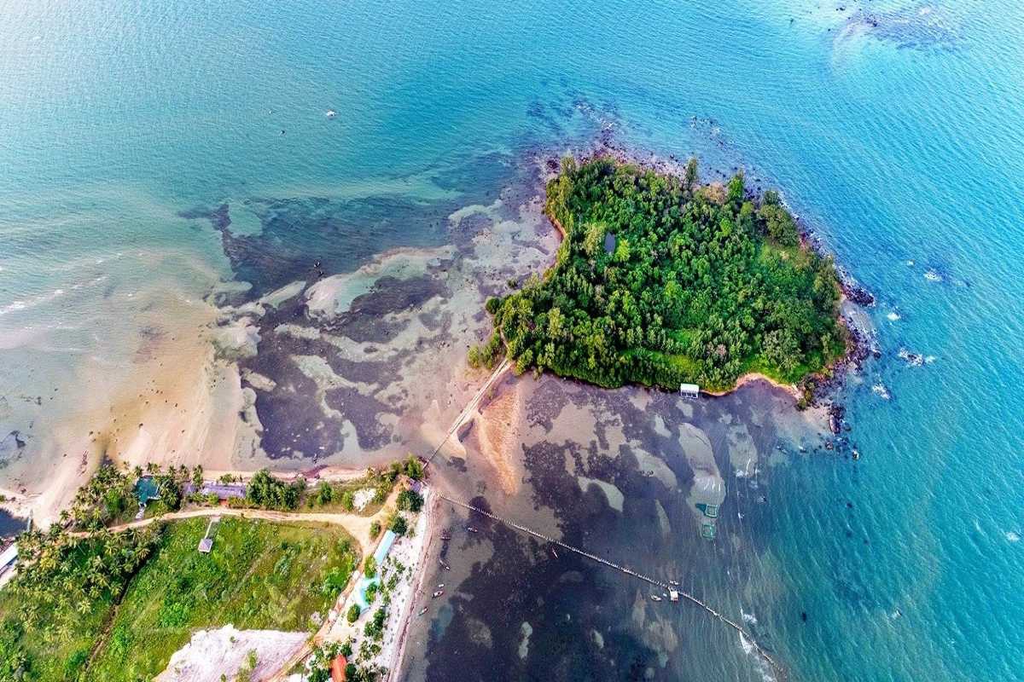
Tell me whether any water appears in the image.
Yes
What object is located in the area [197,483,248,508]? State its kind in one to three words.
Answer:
house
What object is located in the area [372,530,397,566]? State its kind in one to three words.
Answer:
house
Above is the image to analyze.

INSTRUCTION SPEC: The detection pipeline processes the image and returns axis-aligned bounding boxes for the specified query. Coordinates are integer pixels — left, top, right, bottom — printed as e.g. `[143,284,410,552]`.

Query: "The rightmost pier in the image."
[438,494,780,670]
